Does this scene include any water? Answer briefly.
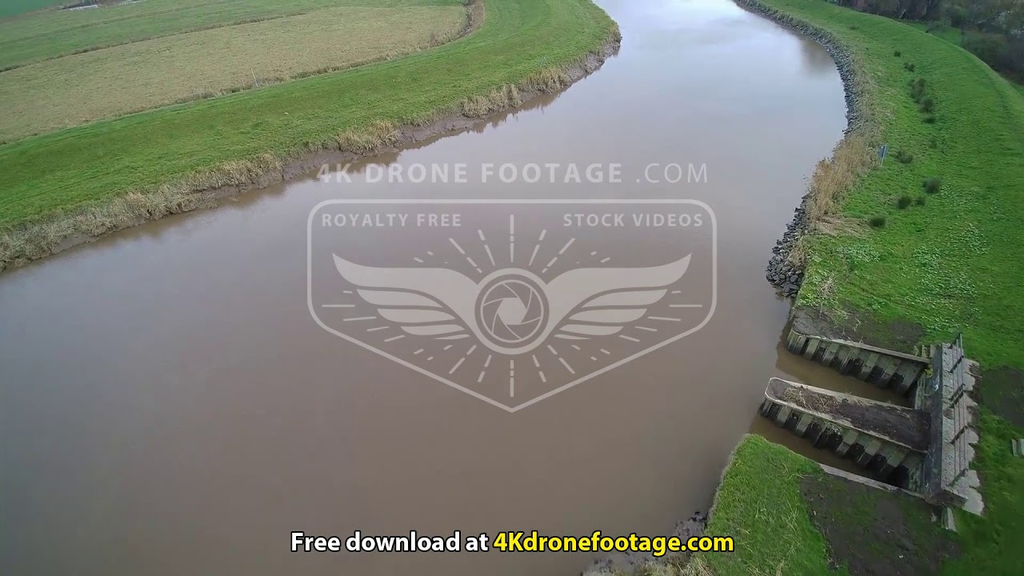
Yes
